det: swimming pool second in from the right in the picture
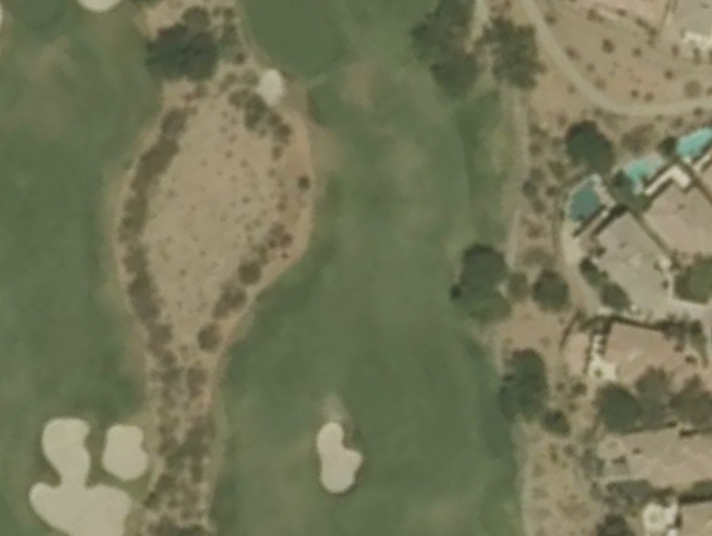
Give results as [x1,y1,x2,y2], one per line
[624,152,667,192]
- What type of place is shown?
golf course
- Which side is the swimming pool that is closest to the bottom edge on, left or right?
right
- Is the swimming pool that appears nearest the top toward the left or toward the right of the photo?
right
